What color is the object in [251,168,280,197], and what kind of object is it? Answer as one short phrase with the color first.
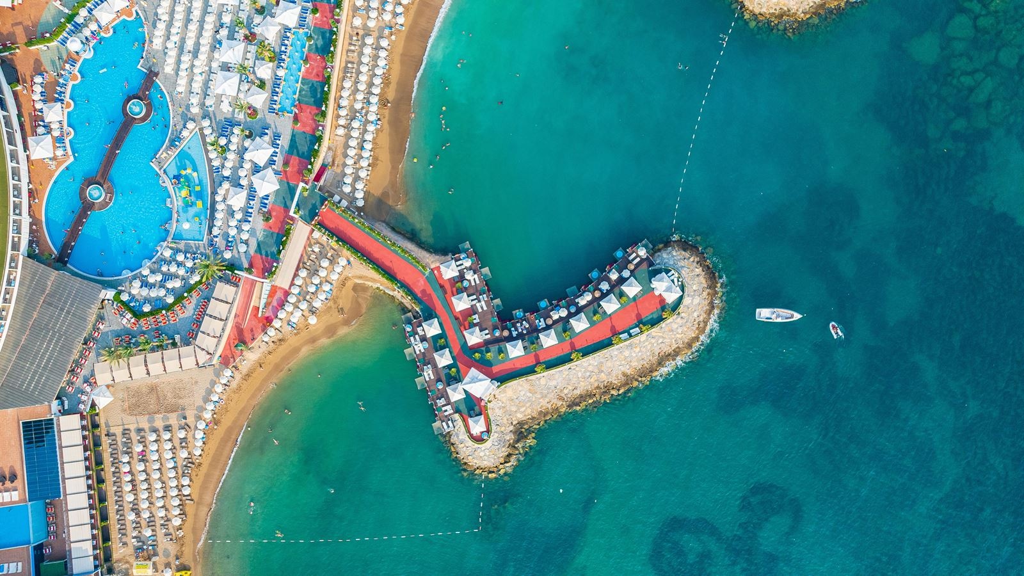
white umbrella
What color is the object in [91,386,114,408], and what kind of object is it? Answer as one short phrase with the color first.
white gazebo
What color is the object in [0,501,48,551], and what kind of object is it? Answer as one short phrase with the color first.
blue swimming pool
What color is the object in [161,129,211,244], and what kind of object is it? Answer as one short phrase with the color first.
blue swimming pool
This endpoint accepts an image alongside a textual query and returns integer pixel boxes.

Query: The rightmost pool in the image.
[276,29,311,115]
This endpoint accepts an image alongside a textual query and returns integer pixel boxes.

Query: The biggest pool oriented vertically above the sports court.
[42,7,175,279]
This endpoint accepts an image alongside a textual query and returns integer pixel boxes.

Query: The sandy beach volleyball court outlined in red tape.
[122,374,198,419]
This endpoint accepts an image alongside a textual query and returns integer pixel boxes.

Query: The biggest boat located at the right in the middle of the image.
[754,309,802,322]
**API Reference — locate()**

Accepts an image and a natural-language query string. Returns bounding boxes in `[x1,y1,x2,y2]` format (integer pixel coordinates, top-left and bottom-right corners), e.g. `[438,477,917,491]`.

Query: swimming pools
[161,129,211,244]
[42,7,175,279]
[0,501,48,551]
[276,29,311,115]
